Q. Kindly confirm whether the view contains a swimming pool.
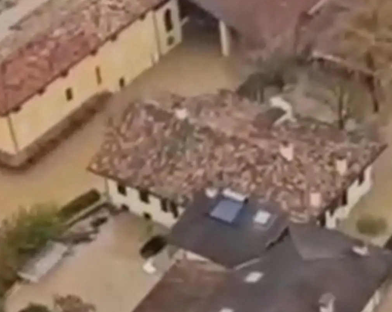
No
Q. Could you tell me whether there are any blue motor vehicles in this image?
No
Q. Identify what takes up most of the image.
buildings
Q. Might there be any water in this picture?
Yes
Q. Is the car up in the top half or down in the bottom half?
bottom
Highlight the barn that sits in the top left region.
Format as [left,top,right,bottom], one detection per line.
[0,0,174,155]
